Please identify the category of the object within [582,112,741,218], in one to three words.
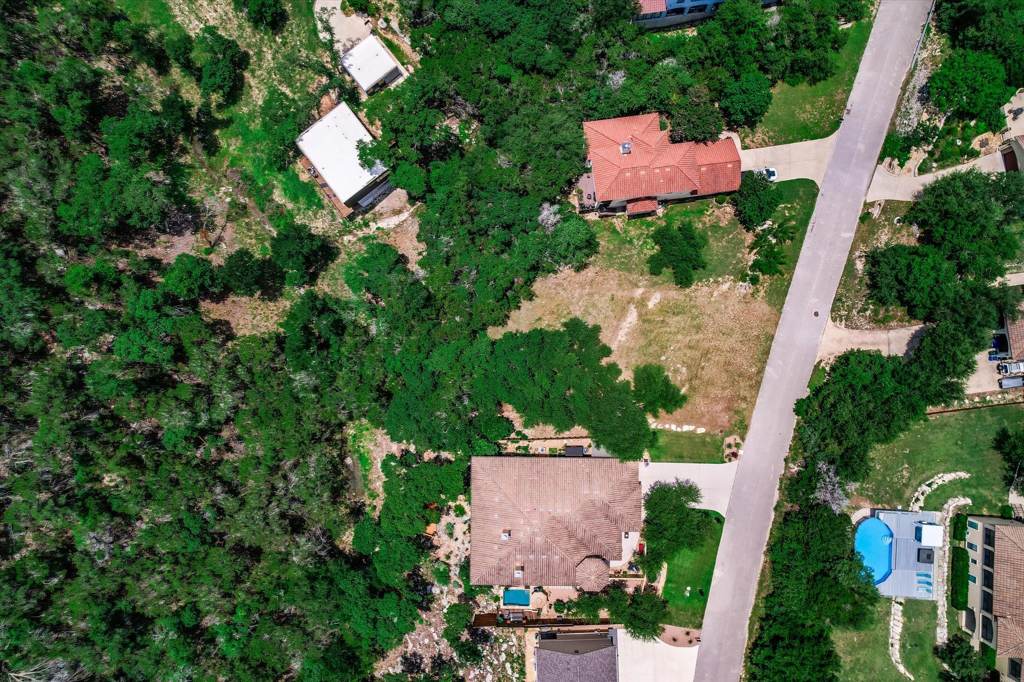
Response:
house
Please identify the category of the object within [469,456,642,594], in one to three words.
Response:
house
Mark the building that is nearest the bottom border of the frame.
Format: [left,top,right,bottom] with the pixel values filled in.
[536,630,618,682]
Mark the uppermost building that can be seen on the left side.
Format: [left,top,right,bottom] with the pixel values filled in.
[341,33,399,96]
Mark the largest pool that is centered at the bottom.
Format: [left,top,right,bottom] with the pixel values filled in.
[498,586,535,611]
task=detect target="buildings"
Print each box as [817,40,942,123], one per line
[536,630,618,682]
[1004,300,1024,360]
[961,518,1024,682]
[341,33,399,96]
[998,126,1024,183]
[469,456,642,594]
[296,102,394,209]
[631,0,794,28]
[565,445,582,456]
[582,112,741,218]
